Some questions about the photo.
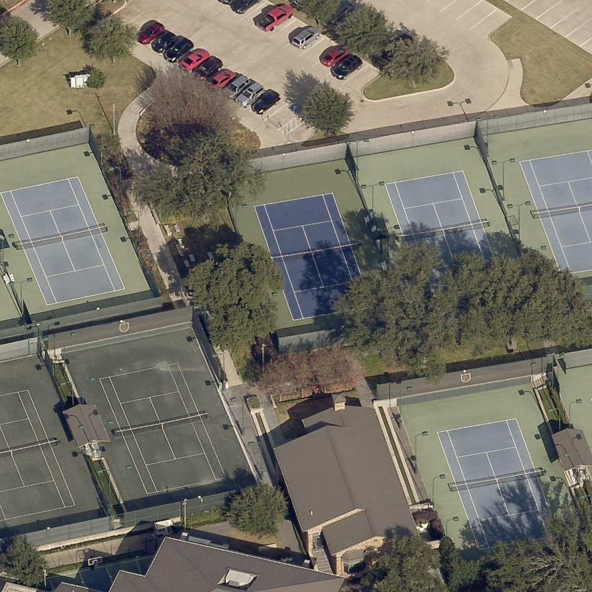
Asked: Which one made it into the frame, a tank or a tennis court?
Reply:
tennis court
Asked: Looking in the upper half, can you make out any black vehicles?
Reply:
Yes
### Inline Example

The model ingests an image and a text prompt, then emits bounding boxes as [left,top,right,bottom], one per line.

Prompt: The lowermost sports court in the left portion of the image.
[43,552,157,592]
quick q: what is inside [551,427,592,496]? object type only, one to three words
shed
